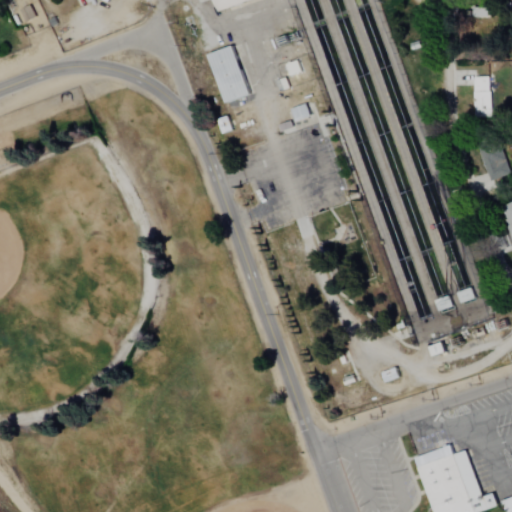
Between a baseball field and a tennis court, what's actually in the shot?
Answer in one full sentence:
The image shows a baseball field.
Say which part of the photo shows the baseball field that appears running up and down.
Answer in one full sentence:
The baseball field that appears running up and down appears toward the left of the photo.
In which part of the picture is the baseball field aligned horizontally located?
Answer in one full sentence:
Look in the bottom portion of the view to spot the baseball field aligned horizontally.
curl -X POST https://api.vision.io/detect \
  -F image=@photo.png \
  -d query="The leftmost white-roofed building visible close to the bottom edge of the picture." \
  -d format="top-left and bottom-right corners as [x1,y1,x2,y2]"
[415,444,502,512]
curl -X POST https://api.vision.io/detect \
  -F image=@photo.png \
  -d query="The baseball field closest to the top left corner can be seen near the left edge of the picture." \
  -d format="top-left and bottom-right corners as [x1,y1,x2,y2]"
[0,209,24,299]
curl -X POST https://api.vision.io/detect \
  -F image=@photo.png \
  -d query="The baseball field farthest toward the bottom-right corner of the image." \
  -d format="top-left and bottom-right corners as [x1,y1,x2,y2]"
[210,473,330,512]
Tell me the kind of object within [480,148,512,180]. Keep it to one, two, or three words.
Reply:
house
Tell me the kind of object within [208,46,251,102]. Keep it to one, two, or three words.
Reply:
building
